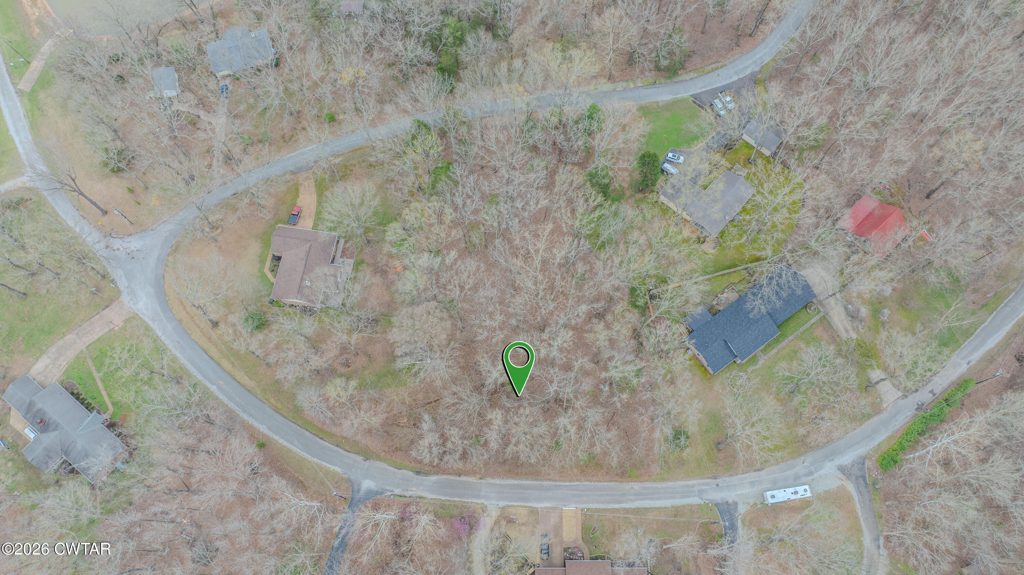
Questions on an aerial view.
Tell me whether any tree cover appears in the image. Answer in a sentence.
Yes, there is tree cover in the image.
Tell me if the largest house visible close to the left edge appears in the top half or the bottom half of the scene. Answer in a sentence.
It is in the bottom half that the largest house visible close to the left edge appears.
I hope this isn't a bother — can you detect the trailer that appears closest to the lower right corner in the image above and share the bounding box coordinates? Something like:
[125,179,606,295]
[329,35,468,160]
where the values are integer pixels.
[757,484,811,506]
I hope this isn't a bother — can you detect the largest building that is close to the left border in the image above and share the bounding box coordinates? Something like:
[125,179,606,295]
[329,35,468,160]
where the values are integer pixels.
[1,373,131,482]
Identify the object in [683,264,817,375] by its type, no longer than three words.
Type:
house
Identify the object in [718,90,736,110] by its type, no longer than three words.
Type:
vehicle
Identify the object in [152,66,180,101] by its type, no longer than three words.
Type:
shed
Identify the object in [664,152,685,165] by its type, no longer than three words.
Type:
vehicle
